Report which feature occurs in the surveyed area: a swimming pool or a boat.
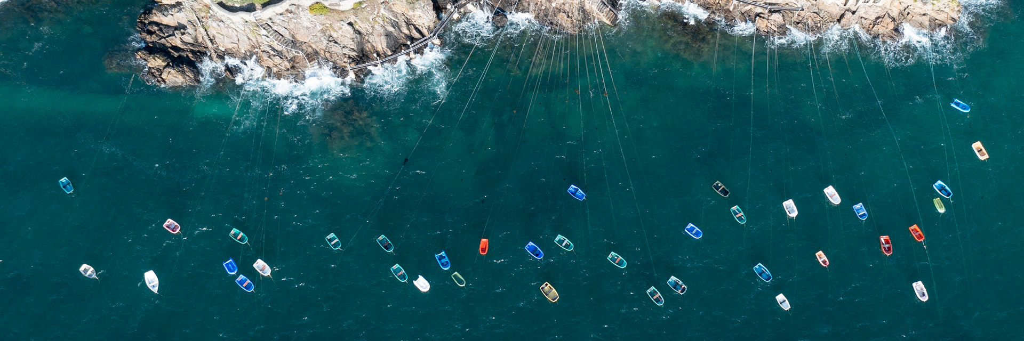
boat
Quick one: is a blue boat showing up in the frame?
Yes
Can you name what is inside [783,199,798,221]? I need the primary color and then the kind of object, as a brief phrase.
white boat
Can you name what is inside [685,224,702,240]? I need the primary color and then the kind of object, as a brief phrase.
blue boat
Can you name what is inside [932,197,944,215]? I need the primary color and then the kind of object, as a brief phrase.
green boat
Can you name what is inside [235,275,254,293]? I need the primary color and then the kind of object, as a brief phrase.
blue boat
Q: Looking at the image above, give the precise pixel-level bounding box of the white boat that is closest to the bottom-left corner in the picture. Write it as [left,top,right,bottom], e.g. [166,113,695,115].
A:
[79,263,100,280]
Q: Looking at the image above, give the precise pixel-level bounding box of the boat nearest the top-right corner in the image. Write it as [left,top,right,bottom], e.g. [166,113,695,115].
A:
[951,99,970,113]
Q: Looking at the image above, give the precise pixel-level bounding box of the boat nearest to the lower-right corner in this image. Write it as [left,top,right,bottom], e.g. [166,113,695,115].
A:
[913,281,929,303]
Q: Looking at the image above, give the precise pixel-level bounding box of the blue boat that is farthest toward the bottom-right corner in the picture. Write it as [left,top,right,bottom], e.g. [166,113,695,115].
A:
[934,180,953,200]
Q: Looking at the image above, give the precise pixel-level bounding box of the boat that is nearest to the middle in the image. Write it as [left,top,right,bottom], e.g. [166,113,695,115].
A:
[568,185,585,200]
